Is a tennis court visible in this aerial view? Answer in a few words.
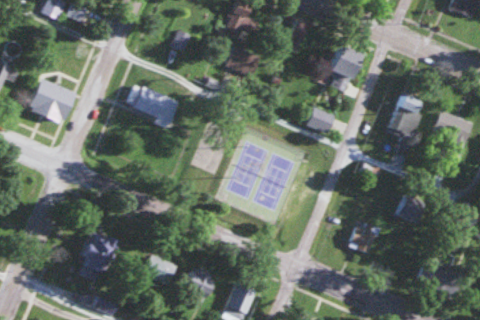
Yes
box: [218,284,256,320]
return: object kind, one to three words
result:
house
